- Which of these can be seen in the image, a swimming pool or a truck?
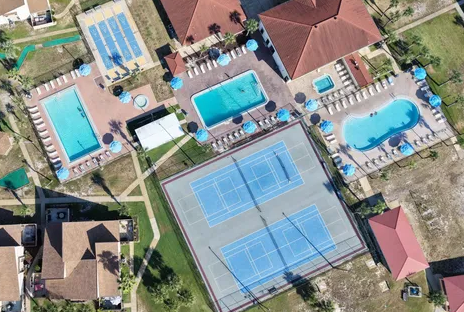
swimming pool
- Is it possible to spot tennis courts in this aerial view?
Yes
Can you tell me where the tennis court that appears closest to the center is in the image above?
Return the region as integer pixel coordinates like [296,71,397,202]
[181,141,313,228]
